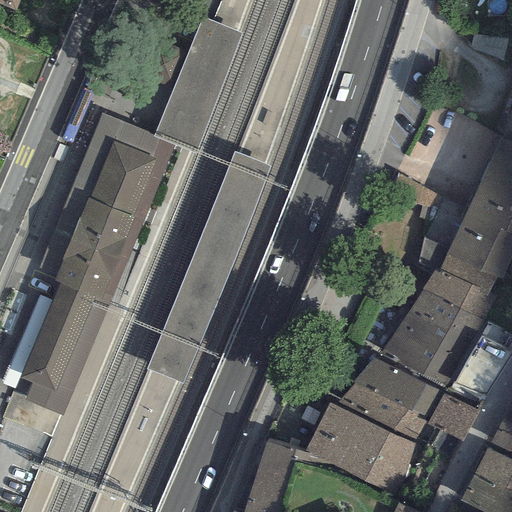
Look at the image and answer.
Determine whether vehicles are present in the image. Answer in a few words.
Yes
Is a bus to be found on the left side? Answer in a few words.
Yes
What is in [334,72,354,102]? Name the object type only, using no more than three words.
vehicle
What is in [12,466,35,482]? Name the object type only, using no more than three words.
car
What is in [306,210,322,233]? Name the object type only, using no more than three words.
car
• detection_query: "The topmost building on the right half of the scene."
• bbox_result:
[472,34,508,60]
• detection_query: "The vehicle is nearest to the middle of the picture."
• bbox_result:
[270,252,284,275]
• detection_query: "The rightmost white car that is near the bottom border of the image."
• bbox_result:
[200,466,216,490]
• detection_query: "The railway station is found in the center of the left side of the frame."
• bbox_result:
[22,112,174,414]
